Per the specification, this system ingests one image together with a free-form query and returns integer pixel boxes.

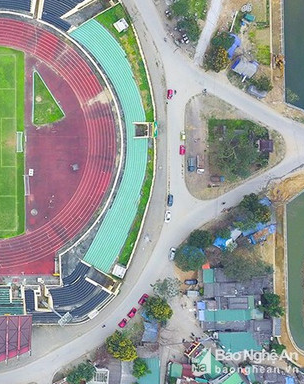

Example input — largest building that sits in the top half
[230,55,256,78]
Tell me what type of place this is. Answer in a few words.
sports ground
